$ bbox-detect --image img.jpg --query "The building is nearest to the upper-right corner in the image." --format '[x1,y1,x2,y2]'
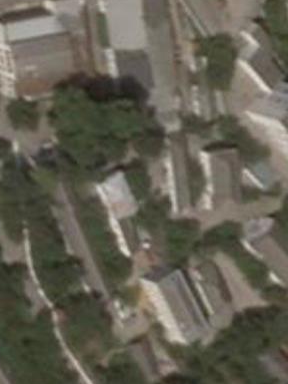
[244,19,274,47]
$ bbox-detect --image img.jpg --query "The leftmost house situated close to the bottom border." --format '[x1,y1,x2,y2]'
[129,331,175,384]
